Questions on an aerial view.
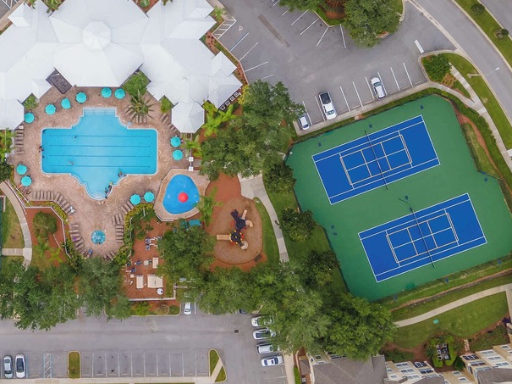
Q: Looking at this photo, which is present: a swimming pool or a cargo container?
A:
swimming pool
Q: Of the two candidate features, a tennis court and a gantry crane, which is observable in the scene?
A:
tennis court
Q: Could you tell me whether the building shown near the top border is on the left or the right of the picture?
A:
left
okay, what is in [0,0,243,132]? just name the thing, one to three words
building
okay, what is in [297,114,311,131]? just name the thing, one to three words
vehicle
